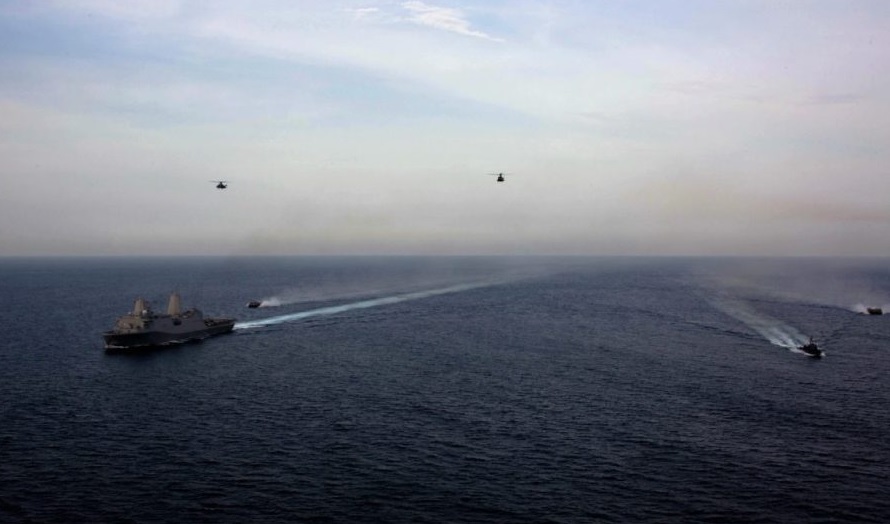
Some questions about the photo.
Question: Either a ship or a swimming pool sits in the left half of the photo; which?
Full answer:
Looking in the left half of the photo, you will find a ship.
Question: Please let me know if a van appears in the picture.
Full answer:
No, I find no van anywhere in the image.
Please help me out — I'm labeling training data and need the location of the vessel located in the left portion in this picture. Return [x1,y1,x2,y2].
[103,292,239,347]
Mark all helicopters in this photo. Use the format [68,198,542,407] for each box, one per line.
[216,182,231,189]
[495,173,512,181]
